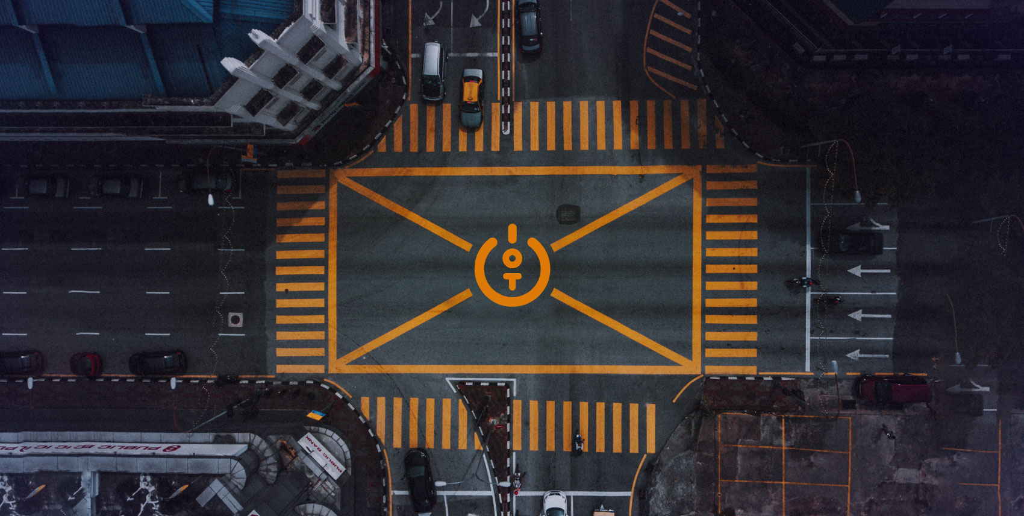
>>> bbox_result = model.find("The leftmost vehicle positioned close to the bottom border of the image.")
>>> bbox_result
[401,448,436,516]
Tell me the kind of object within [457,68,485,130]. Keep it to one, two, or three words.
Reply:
car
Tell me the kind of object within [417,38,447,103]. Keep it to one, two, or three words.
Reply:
car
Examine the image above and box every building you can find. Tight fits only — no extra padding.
[0,0,383,145]
[0,424,357,516]
[764,0,1024,50]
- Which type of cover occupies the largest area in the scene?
paved ground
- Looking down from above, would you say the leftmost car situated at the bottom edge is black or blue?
black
